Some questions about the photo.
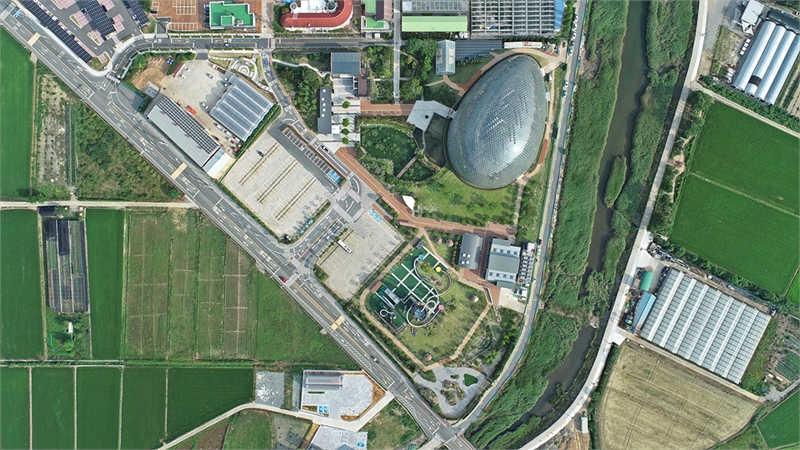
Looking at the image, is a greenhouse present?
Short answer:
Yes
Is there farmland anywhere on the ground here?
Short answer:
Yes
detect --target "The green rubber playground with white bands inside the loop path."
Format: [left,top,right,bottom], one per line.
[369,246,451,334]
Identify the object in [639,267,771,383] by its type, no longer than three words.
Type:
greenhouse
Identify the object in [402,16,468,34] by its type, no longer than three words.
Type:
shed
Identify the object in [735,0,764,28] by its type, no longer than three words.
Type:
building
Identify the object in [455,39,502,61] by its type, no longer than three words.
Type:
solar array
